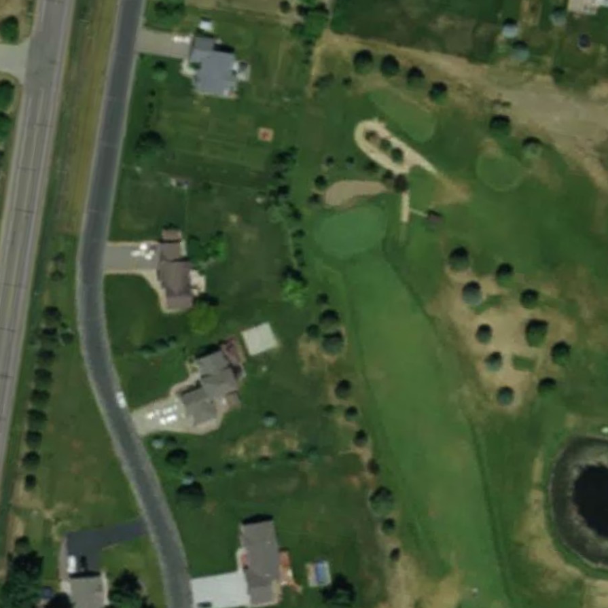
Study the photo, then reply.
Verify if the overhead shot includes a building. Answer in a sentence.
Yes, I can see a building in this picture.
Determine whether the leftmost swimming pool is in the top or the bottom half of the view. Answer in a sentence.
The leftmost swimming pool sits in the bottom half of the picture.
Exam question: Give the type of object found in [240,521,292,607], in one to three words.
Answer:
house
